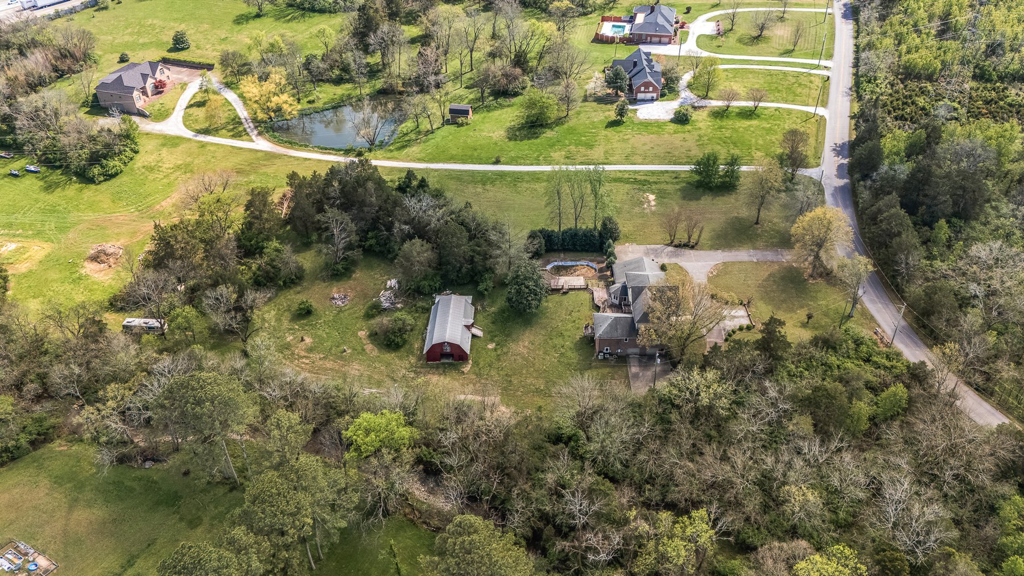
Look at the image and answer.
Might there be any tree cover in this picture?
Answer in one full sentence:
Yes, the picture does contain tree cover.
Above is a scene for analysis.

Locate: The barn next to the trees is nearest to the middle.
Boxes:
[424,293,483,362]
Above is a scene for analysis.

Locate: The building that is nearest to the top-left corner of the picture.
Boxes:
[83,60,174,117]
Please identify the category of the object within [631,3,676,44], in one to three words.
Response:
house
